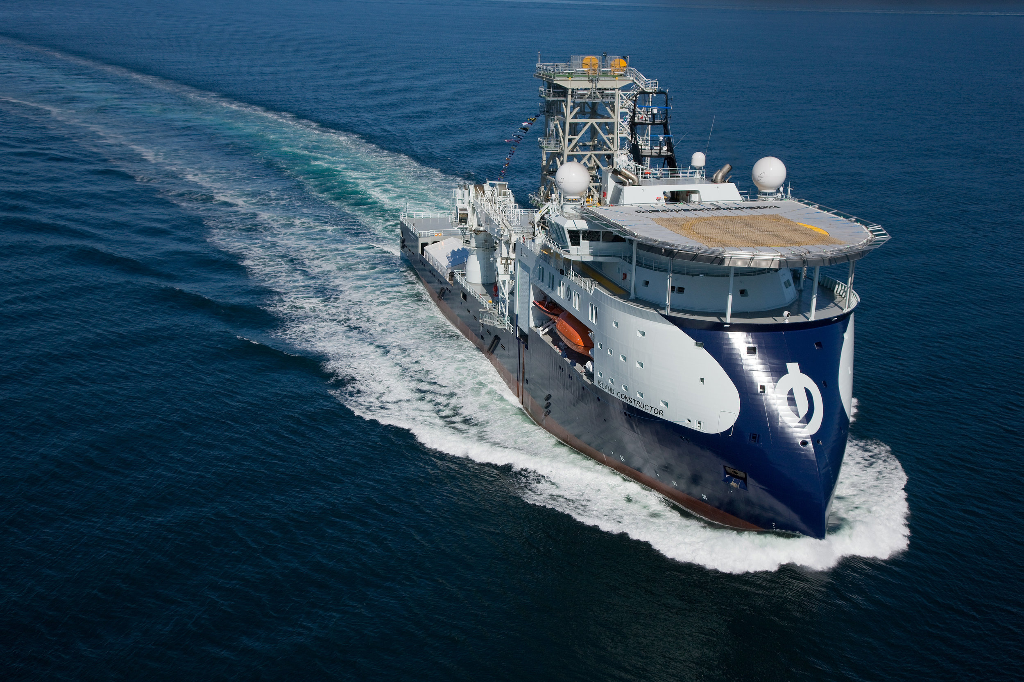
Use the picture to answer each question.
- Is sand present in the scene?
No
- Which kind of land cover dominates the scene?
water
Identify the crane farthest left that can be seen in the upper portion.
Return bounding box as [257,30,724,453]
[450,180,520,298]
